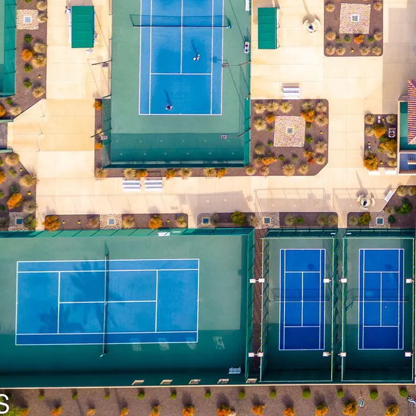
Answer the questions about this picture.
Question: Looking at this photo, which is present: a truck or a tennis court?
tennis court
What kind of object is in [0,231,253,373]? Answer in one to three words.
tennis court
